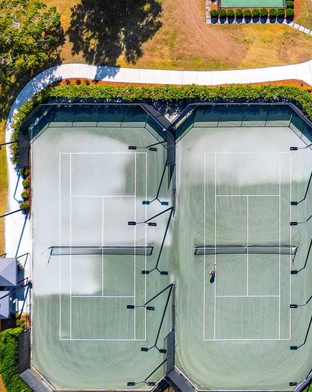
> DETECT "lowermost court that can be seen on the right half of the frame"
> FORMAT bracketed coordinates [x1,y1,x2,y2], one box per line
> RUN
[175,104,312,392]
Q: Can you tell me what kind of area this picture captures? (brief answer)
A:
sports ground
